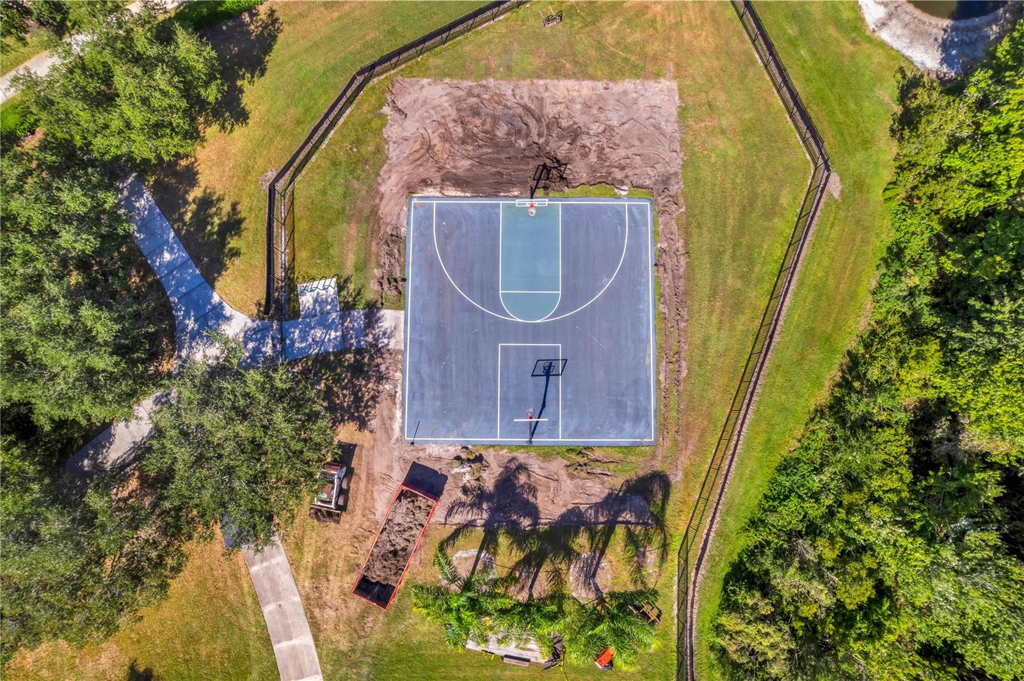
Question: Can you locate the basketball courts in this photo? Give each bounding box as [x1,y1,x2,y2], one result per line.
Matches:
[402,197,656,445]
